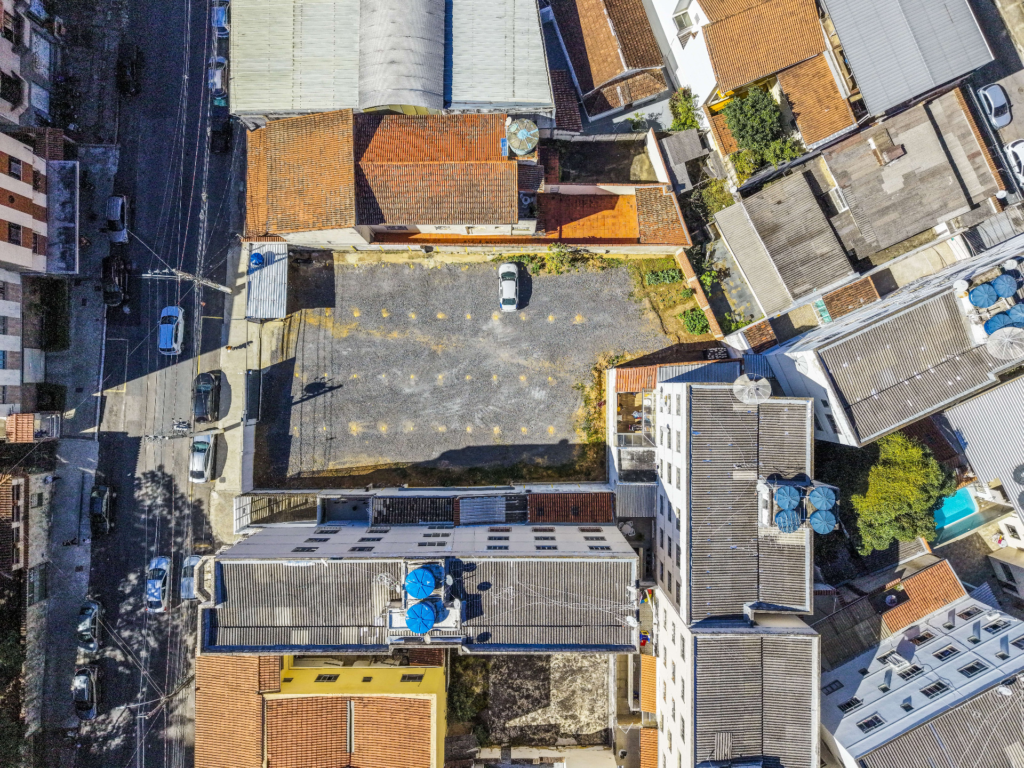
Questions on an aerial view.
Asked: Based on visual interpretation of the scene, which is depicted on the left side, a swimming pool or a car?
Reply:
car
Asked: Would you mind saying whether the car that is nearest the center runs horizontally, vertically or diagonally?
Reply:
vertically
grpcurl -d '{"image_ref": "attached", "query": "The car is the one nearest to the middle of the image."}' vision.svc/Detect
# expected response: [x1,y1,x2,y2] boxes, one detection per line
[497,263,520,312]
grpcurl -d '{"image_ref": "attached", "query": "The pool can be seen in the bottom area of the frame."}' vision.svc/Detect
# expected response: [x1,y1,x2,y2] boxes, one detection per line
[923,487,983,541]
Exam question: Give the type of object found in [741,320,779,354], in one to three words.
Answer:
shed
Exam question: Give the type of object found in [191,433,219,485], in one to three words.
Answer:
car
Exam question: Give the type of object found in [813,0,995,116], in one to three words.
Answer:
warehouse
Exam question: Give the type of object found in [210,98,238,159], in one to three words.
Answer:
truck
